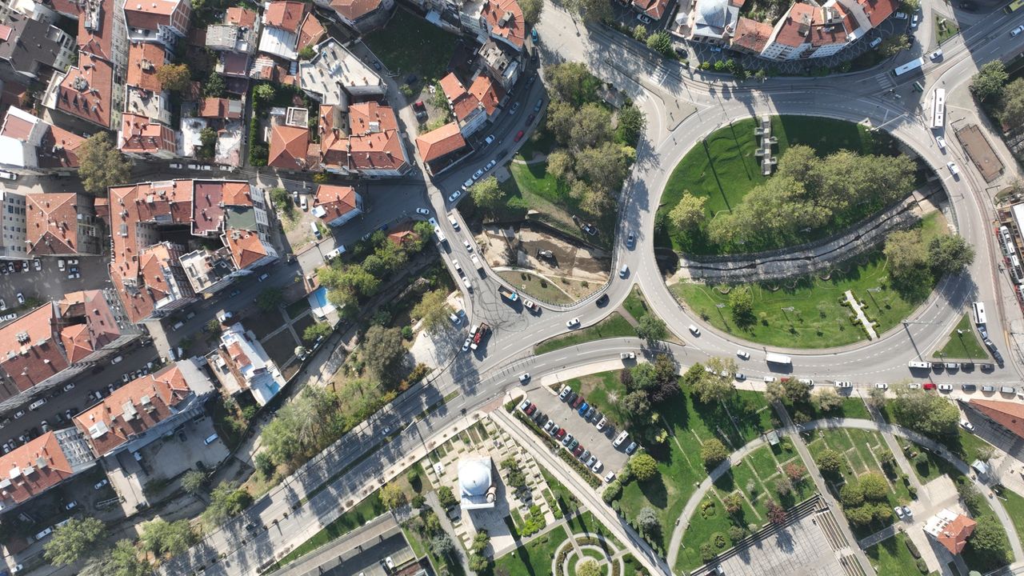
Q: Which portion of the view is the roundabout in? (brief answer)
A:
right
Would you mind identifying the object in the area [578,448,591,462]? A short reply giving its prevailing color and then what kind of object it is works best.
gray vehicle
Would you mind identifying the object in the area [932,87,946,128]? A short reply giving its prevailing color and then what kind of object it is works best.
white vehicle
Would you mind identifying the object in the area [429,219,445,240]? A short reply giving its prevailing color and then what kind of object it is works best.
white vehicle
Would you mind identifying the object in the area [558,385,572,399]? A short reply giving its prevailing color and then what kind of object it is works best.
white car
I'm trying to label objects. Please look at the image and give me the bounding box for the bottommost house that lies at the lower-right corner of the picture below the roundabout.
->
[915,504,976,555]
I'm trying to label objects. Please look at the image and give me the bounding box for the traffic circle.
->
[620,80,989,388]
